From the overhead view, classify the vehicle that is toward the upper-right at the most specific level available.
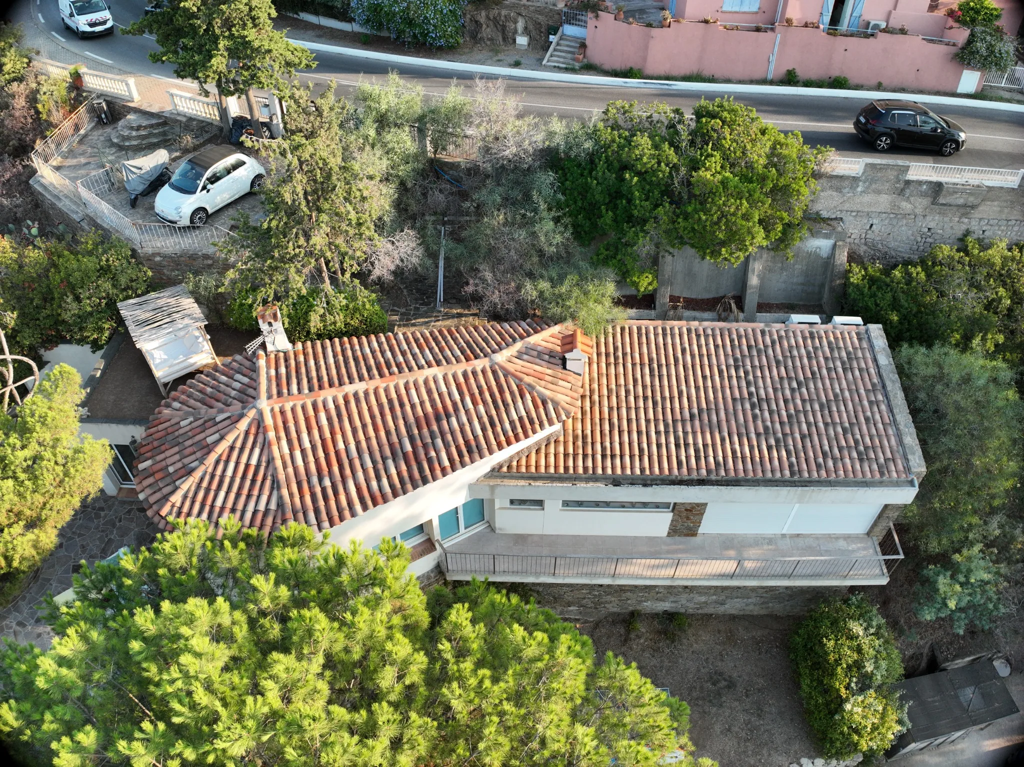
automobile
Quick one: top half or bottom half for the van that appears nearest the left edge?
top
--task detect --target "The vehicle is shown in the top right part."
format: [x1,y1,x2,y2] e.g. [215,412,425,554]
[856,94,976,157]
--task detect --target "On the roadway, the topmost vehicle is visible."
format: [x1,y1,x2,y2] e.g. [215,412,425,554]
[62,0,120,38]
